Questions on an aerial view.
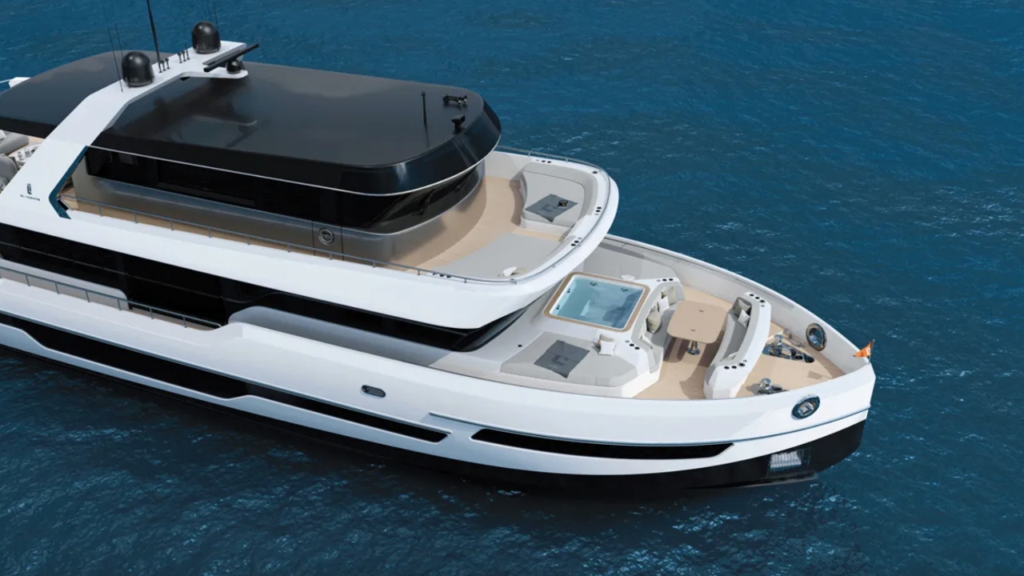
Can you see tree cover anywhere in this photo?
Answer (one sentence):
No, there is no tree cover in the image.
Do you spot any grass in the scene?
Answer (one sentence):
No, there is no grass in the image.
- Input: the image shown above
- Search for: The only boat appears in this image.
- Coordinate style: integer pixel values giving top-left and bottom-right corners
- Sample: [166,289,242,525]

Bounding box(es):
[0,0,876,497]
